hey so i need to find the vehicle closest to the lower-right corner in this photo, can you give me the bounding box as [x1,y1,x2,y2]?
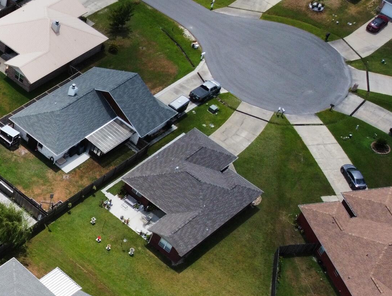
[345,159,375,190]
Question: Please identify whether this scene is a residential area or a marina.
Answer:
residential area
